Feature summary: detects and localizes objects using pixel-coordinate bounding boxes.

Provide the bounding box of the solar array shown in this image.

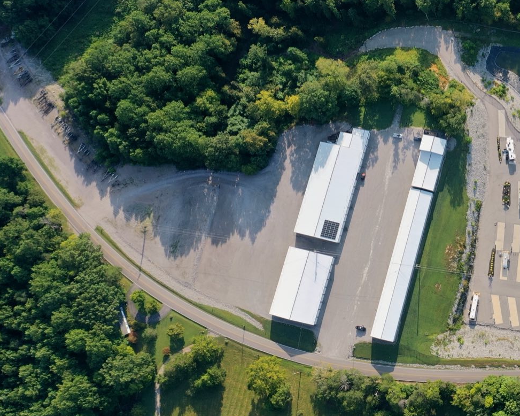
[321,221,339,239]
